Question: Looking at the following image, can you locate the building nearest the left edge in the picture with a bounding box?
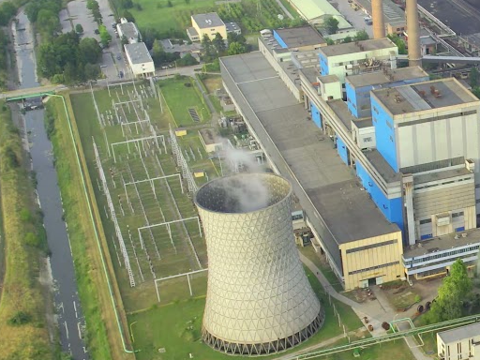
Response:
[101,18,138,42]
